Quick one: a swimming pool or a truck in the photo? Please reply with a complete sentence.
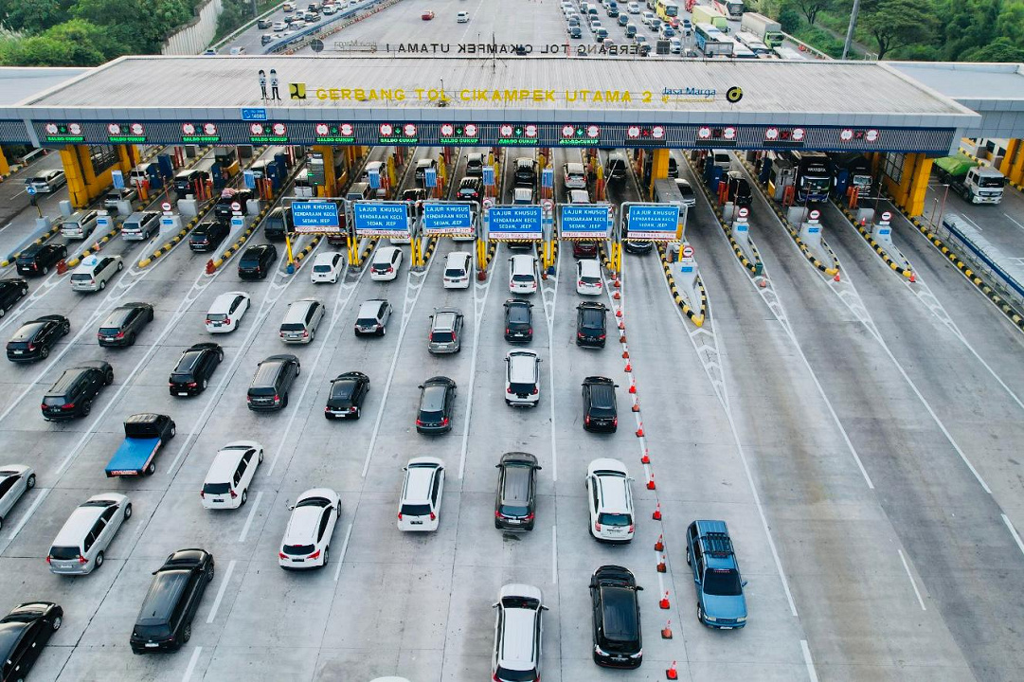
The image shows a truck.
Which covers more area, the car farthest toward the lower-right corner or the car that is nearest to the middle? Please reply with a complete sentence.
The car farthest toward the lower-right corner takes up more space than the car that is nearest to the middle does.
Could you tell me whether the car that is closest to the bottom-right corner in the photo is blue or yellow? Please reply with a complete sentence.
The car that is closest to the bottom-right corner looks blue in the image.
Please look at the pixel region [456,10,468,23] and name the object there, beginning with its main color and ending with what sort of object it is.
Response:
white vehicle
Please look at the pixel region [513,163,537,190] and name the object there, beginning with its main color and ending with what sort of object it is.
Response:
black car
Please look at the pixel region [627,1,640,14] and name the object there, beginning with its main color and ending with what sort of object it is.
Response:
white vehicle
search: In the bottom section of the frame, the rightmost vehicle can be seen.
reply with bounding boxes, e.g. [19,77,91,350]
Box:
[684,521,751,637]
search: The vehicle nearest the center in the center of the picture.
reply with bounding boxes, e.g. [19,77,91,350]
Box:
[501,306,535,350]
